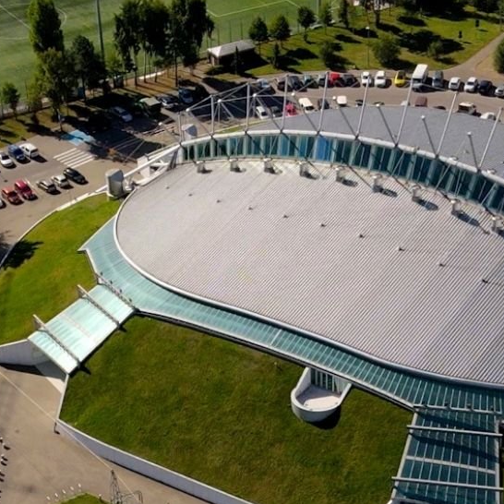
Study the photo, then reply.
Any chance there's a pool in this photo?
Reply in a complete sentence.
No, the photo shows no pool.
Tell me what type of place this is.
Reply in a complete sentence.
What you see here is a sports ground.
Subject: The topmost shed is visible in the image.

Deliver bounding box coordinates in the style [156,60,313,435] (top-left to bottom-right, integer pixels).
[201,31,255,66]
